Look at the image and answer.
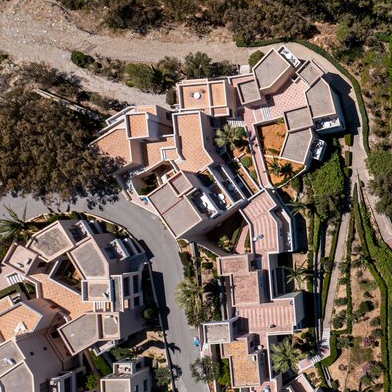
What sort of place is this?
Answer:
residential area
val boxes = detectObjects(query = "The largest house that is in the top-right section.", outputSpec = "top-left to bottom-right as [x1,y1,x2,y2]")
[228,45,344,166]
